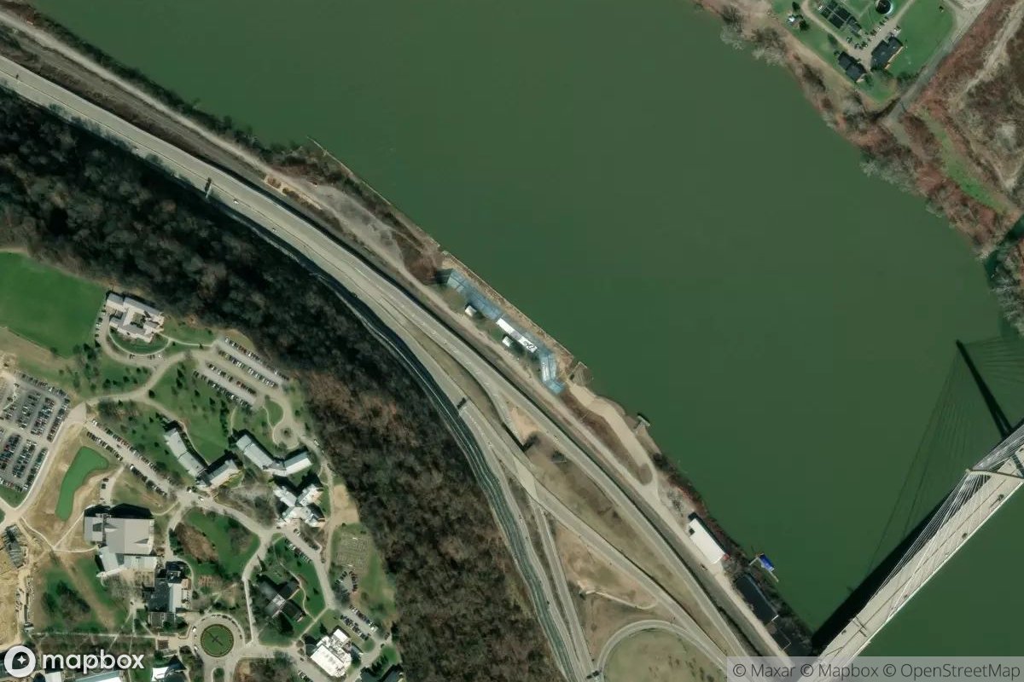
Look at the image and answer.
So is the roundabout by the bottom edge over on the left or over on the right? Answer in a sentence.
You can find the roundabout by the bottom edge on the left side of the picture.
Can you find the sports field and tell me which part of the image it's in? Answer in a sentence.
The sports field is located in the left region of the scene.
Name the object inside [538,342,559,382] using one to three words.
shed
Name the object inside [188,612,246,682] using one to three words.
roundabout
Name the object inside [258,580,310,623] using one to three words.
building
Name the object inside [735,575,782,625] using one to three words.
building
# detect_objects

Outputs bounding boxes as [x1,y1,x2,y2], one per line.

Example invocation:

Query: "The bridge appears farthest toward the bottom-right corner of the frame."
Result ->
[787,424,1024,682]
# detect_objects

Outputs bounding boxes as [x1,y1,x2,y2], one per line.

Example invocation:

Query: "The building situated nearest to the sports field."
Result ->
[106,292,169,343]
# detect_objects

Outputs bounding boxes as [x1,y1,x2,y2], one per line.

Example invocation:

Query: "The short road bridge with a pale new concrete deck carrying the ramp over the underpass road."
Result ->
[512,448,560,515]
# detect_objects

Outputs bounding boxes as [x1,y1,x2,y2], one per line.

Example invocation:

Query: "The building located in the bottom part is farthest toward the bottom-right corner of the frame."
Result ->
[768,623,794,650]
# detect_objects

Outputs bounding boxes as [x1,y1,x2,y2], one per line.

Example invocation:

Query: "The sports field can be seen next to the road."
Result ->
[0,252,106,357]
